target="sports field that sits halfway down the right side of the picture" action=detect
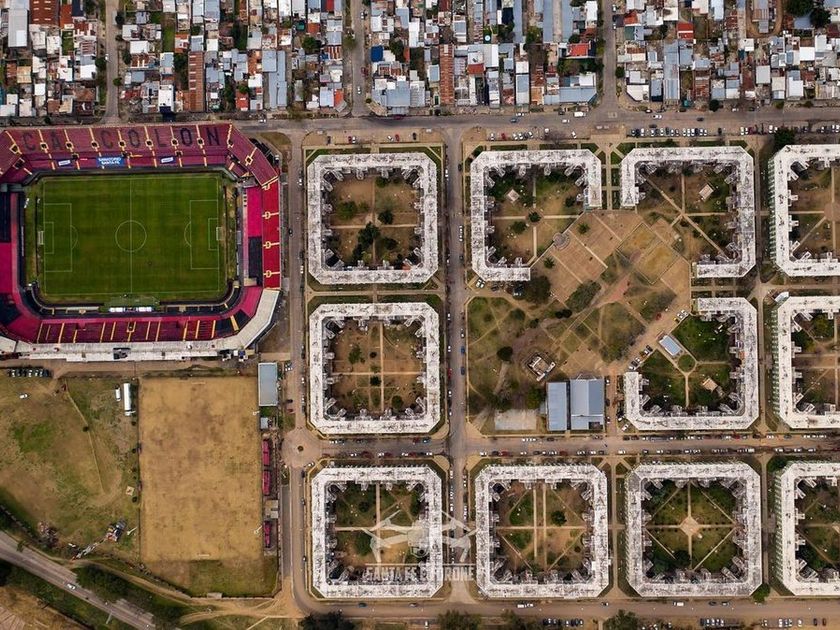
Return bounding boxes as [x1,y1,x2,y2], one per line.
[616,222,680,284]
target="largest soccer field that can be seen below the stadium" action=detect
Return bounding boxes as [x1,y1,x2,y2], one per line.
[140,377,262,561]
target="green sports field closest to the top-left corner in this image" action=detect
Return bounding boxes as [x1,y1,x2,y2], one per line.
[37,173,227,302]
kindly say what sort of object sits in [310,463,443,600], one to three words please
building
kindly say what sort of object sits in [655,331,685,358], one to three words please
building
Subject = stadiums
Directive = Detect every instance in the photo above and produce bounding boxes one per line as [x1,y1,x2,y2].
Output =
[0,123,290,361]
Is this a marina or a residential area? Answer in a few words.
residential area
